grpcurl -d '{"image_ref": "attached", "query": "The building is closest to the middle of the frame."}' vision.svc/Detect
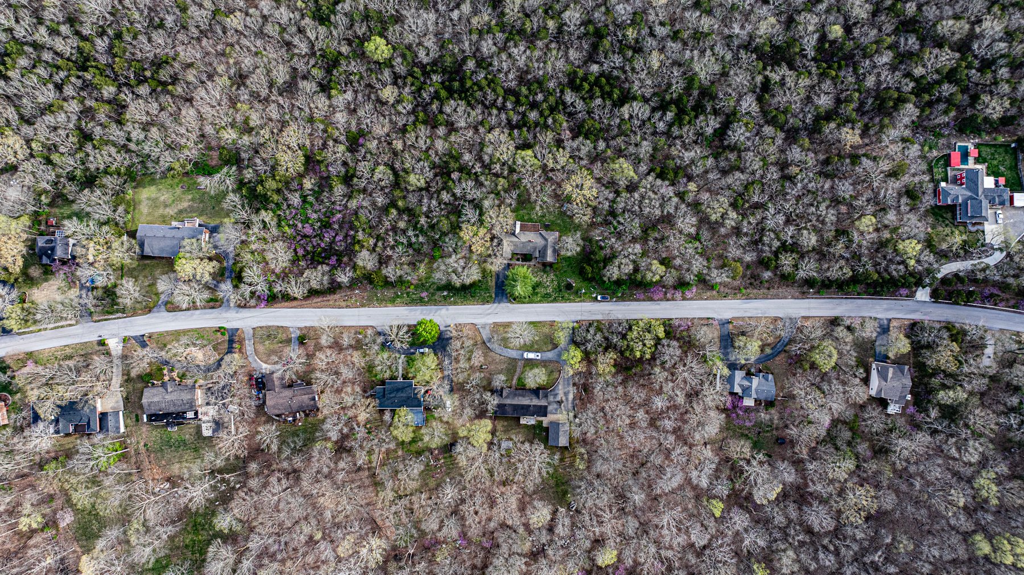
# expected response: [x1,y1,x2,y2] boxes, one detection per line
[501,222,558,262]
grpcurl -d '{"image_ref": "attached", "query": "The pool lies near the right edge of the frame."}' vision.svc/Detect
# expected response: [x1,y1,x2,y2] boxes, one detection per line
[956,142,975,168]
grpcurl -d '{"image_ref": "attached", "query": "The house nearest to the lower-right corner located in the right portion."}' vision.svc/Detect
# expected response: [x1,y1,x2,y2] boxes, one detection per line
[870,363,912,414]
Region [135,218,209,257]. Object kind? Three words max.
house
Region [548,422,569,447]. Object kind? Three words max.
building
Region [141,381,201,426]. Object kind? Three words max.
house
